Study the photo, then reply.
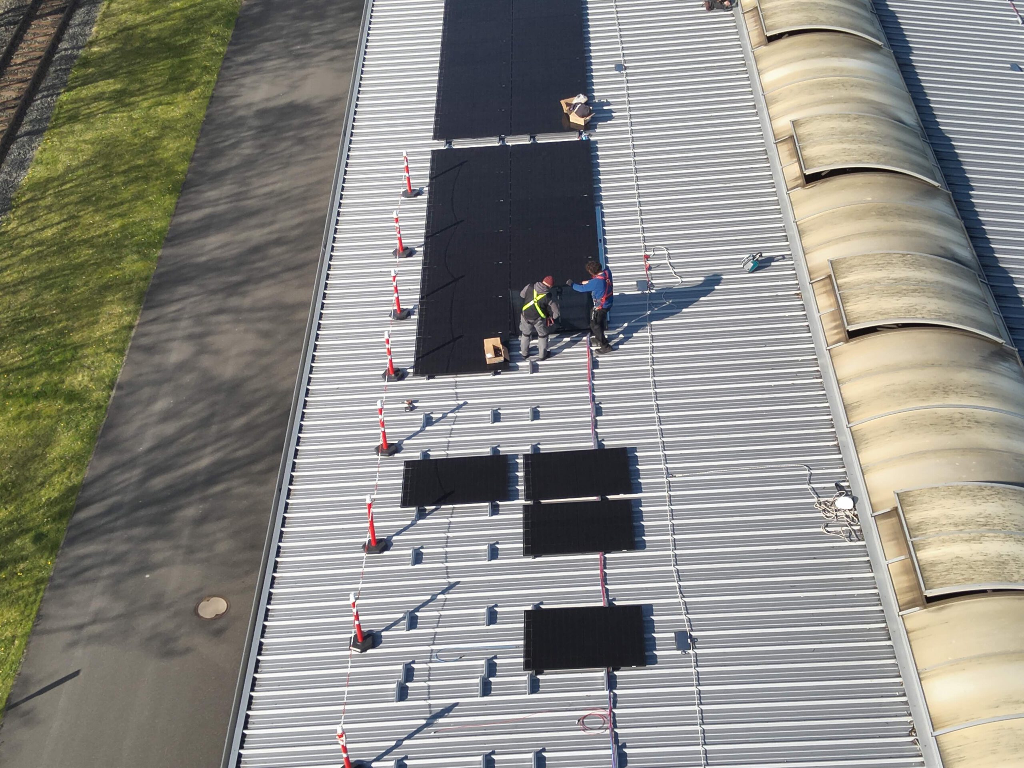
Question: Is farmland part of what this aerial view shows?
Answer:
No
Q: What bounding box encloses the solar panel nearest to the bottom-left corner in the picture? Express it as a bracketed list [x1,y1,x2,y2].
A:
[399,456,506,512]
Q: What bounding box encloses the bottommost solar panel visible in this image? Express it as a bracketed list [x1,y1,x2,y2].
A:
[524,606,645,671]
